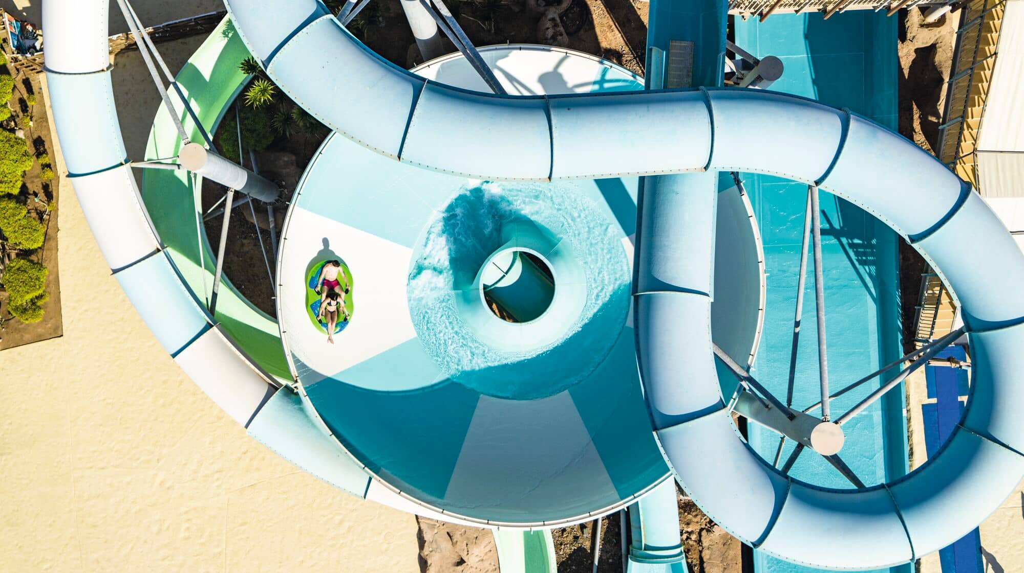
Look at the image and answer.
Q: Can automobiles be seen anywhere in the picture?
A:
No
